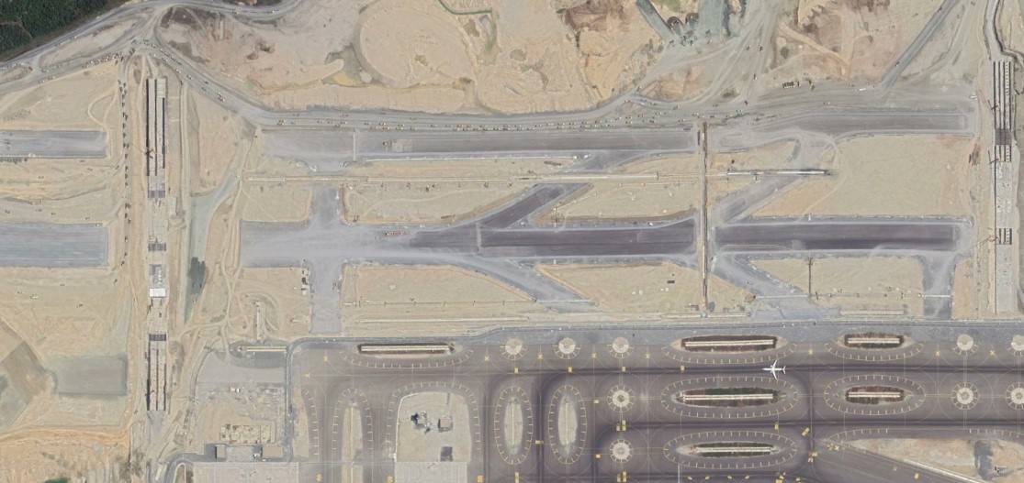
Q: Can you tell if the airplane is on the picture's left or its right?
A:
right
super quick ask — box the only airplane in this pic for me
[762,360,786,380]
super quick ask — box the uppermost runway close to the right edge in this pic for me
[712,109,974,173]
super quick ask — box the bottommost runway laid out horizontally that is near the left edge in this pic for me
[0,223,108,268]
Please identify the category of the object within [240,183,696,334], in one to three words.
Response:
runway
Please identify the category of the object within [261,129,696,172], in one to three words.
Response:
runway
